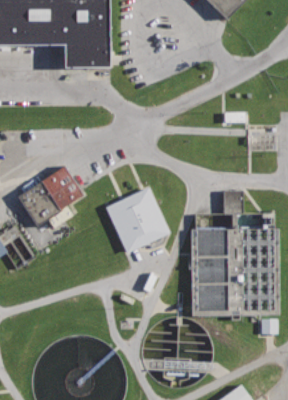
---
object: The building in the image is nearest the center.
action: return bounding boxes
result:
[106,189,172,252]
